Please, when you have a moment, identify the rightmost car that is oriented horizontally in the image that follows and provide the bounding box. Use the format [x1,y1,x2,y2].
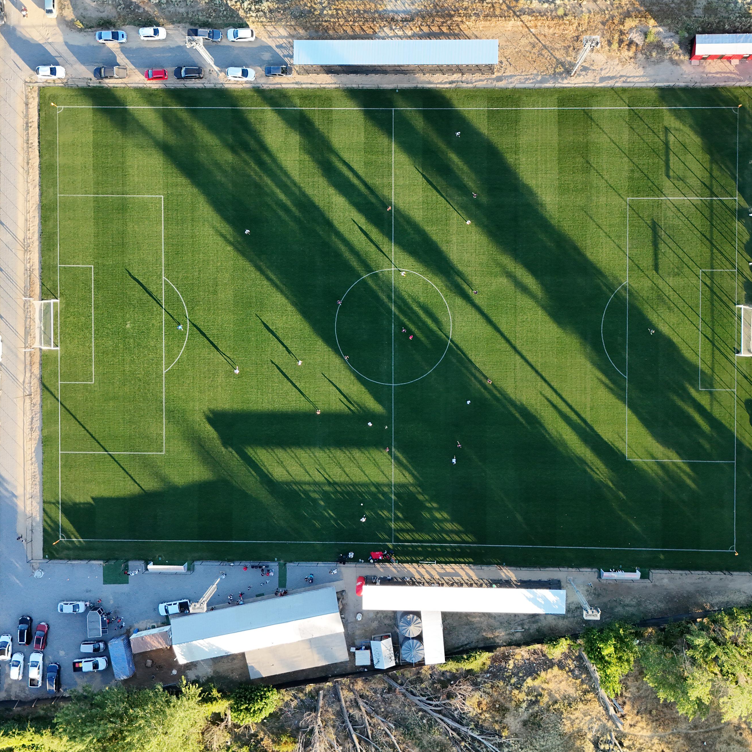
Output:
[265,65,294,79]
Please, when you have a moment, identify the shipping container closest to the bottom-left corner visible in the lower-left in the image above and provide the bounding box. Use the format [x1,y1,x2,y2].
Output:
[108,631,137,680]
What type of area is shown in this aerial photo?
sports ground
